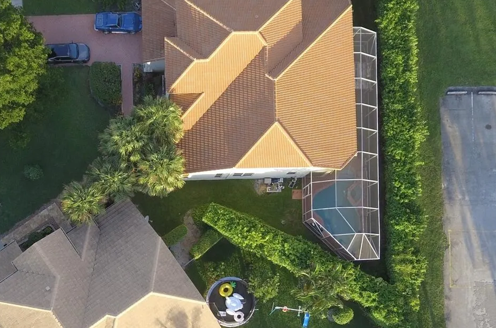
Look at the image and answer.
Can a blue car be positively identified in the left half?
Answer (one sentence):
Yes, looking in the left half, one can make out a blue car.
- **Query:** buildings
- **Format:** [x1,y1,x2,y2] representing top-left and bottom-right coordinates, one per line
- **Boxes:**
[0,199,224,328]
[142,0,356,178]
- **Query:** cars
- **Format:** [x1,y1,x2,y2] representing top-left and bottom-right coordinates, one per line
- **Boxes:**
[92,9,142,35]
[38,40,92,66]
